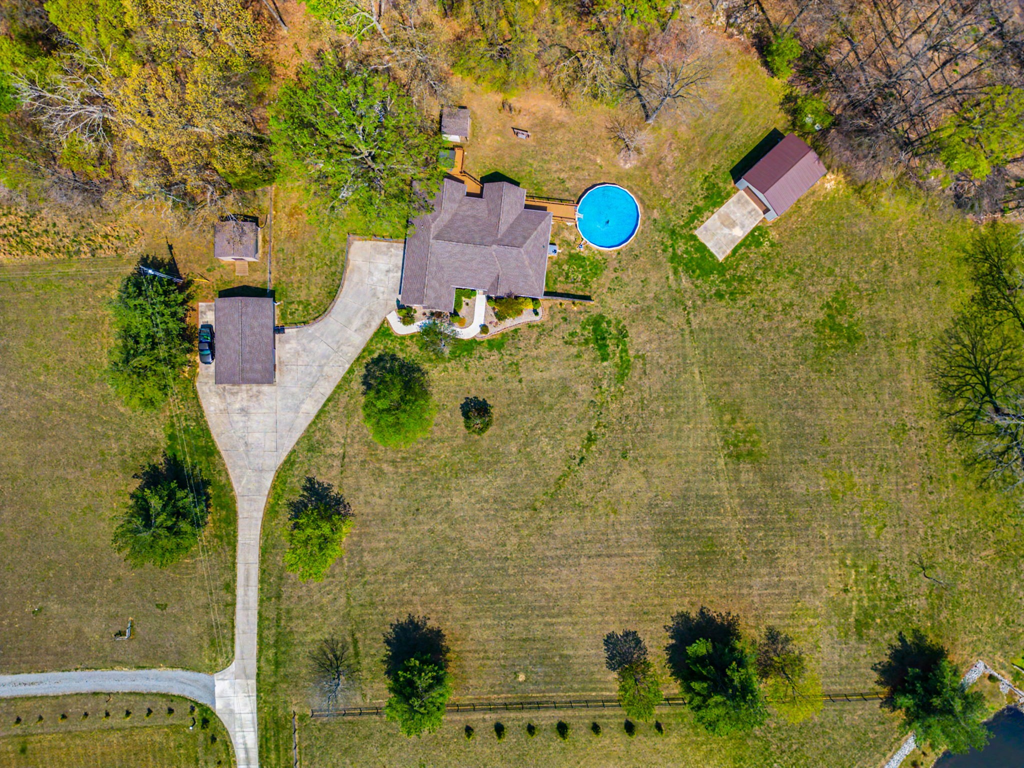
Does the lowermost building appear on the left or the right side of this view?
left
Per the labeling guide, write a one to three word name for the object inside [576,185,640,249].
swimming pool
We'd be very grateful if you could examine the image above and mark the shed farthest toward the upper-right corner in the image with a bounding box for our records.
[739,133,827,219]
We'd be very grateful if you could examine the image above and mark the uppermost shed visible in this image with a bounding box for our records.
[441,107,469,146]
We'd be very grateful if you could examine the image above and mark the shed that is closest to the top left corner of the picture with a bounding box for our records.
[215,221,262,259]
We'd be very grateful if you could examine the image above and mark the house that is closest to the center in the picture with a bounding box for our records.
[400,176,553,312]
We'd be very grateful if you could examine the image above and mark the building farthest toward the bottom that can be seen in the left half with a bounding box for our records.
[214,297,284,384]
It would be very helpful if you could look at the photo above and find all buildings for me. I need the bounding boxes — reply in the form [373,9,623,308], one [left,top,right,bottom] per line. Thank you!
[400,176,553,312]
[739,133,827,219]
[214,297,284,384]
[441,107,469,146]
[215,221,262,259]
